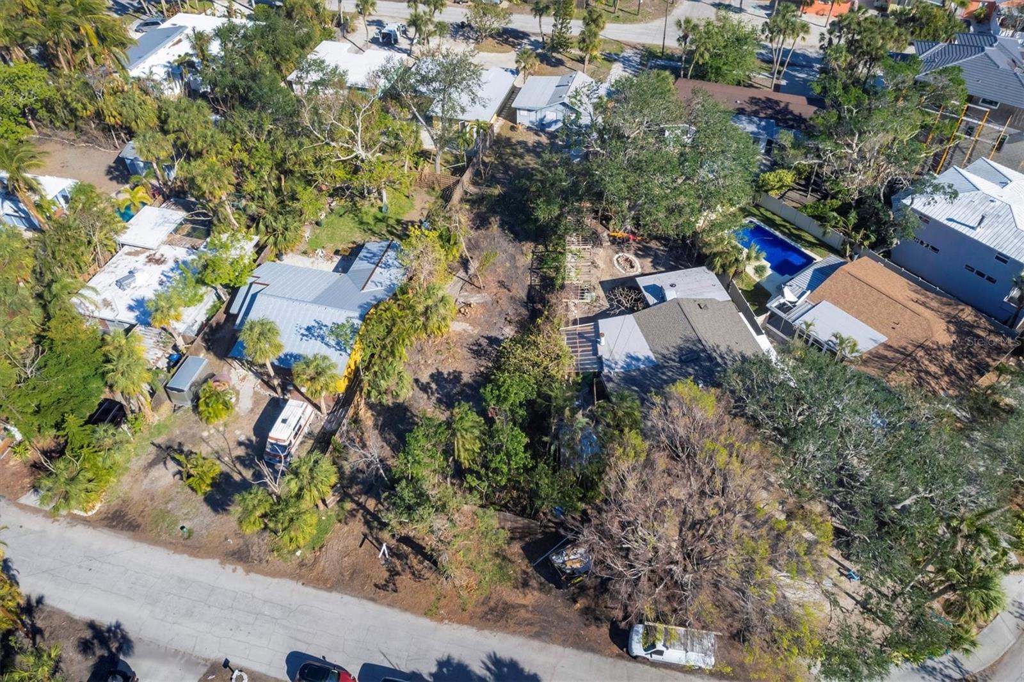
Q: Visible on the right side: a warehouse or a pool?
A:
pool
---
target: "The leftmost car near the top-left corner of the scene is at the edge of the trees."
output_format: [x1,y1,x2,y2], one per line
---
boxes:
[136,20,162,33]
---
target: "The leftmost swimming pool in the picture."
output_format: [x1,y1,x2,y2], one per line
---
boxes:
[115,191,143,221]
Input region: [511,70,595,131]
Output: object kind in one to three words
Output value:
house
